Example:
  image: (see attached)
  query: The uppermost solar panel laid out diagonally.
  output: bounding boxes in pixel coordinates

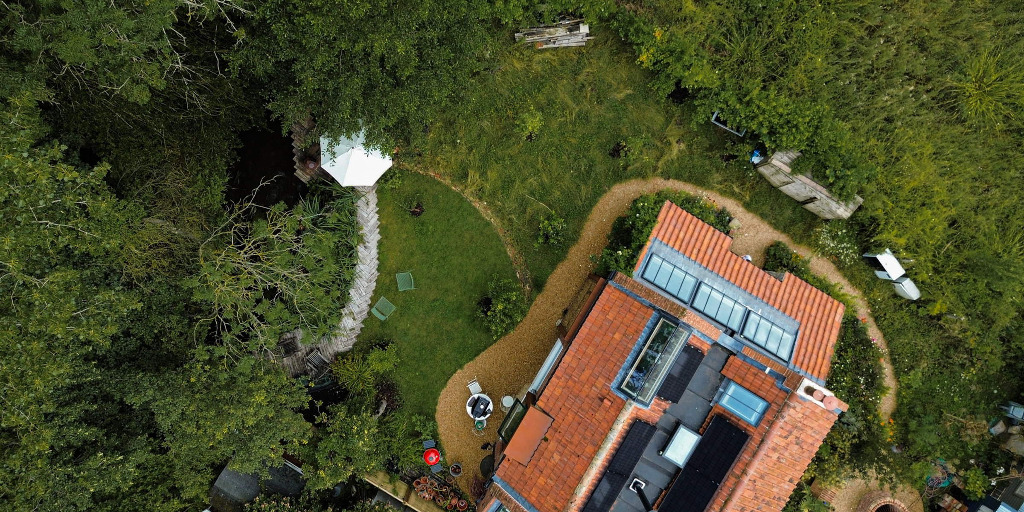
[659,344,707,405]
